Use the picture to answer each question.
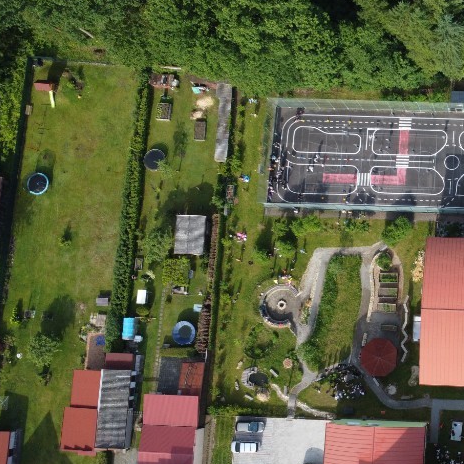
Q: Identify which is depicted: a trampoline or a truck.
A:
trampoline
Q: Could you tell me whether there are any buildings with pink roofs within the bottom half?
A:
Yes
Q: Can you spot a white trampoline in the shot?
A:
No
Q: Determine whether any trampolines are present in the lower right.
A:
No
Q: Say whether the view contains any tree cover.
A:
Yes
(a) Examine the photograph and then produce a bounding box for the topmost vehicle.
[234,419,268,435]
